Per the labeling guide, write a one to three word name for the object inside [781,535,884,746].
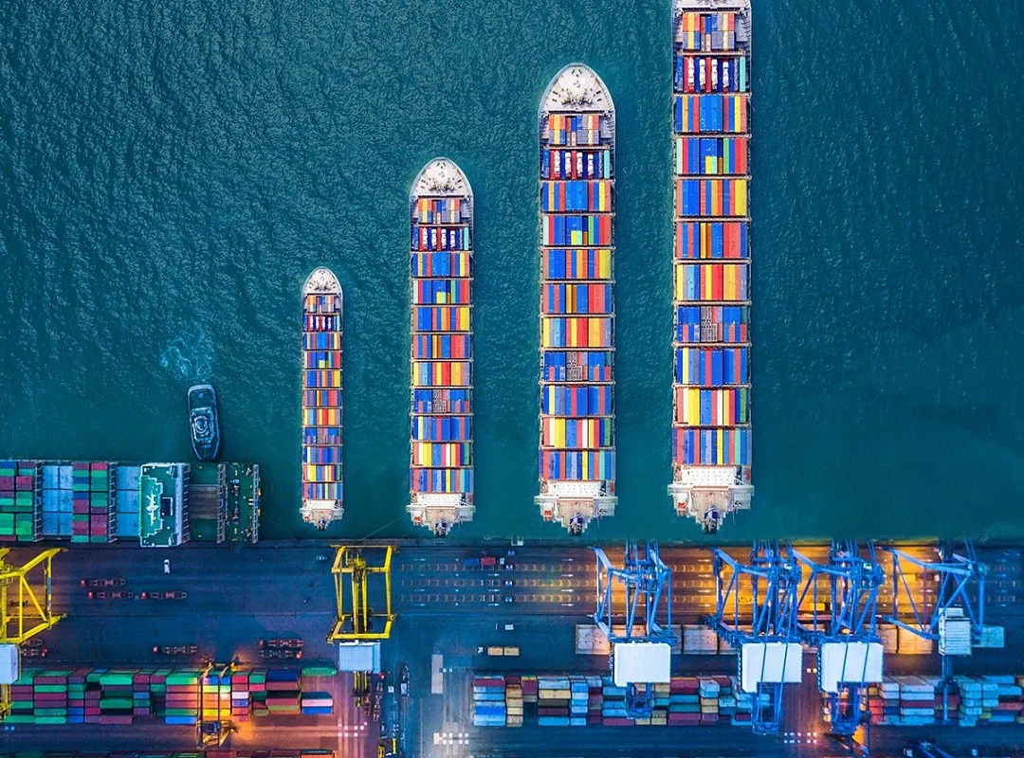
container crane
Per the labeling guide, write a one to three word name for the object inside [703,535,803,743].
container crane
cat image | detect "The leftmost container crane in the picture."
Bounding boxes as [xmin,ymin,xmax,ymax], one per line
[0,545,70,732]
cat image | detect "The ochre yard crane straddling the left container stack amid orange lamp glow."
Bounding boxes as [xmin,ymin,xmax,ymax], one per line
[198,665,249,756]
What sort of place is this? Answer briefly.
port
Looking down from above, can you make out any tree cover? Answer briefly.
No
